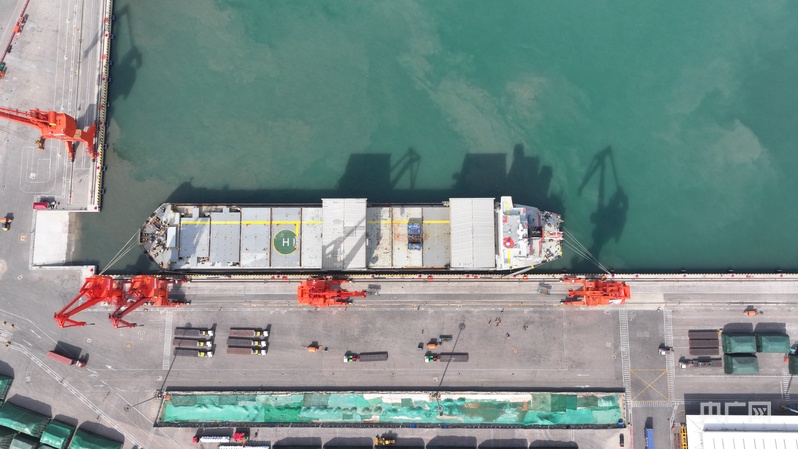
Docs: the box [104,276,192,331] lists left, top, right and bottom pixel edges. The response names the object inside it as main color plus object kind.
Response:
red crane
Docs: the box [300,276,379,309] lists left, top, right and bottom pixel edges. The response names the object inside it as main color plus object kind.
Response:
red crane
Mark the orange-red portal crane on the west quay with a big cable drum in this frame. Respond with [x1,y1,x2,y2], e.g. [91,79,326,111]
[0,97,97,161]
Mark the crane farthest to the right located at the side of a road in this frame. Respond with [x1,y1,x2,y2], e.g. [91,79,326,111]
[542,276,628,309]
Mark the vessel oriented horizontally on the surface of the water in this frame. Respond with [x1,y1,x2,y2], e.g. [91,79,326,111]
[136,195,564,272]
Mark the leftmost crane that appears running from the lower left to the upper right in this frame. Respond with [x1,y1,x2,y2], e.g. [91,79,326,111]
[55,276,141,331]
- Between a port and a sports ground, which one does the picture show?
port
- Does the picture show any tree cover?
No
